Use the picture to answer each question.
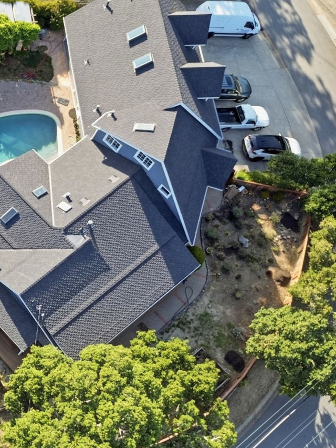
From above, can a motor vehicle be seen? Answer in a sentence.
Yes, there is a motor vehicle in the image.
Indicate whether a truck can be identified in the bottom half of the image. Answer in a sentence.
No, the scene shows no truck in the bottom half of the image.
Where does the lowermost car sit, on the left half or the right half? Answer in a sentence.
The lowermost car is on the right side of the image.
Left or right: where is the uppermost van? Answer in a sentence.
The uppermost van sits on the right side.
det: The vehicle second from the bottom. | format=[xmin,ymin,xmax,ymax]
[215,107,276,136]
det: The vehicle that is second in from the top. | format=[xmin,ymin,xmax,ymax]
[213,78,259,106]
